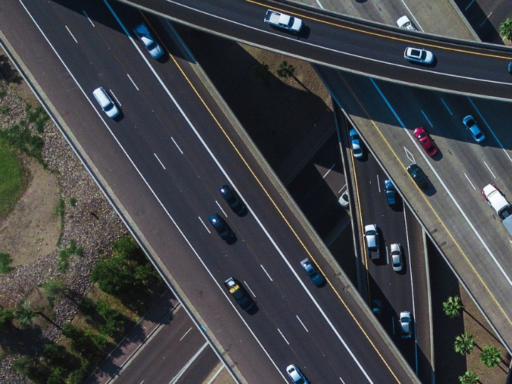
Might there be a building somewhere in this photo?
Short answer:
No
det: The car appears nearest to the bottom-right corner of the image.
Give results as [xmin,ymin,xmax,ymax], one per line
[398,309,412,339]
